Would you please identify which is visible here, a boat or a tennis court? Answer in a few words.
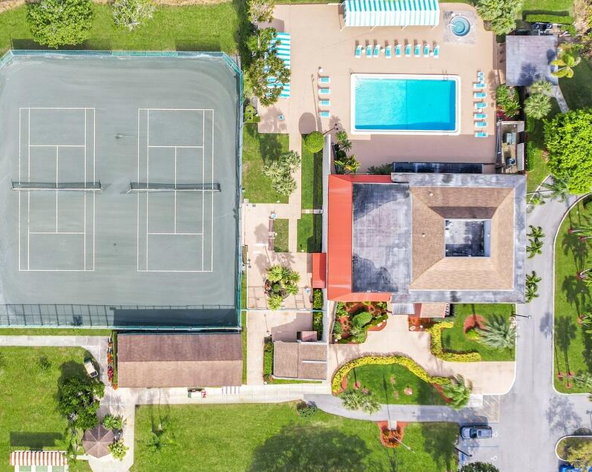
tennis court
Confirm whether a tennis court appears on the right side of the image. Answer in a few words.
No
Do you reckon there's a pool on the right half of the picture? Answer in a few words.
Yes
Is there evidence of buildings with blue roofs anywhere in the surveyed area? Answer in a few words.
No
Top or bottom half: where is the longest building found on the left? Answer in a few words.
bottom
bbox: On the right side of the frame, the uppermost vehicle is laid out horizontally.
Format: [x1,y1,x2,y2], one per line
[461,424,494,439]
